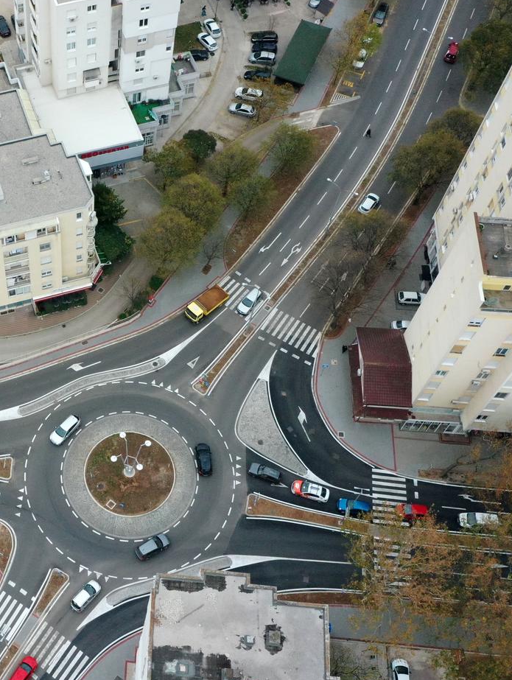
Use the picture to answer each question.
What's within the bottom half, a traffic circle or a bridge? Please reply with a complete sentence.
You can see a traffic circle within the bottom half.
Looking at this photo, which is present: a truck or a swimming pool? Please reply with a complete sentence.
The image shows a truck.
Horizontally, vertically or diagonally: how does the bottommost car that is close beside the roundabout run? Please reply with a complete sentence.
In this picture, the bottommost car that is close beside the roundabout is oriented diagonally.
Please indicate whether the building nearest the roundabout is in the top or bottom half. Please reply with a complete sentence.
You can find the building nearest the roundabout in the bottom half.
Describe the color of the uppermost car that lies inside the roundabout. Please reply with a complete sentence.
The color of the uppermost car that lies inside the roundabout is white.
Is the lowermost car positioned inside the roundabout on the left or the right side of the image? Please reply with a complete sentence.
It is on the left.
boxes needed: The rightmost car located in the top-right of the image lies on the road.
[443,41,462,63]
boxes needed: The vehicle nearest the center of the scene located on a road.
[236,286,265,316]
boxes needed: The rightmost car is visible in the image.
[456,509,503,530]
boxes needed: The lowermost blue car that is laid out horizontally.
[336,497,373,519]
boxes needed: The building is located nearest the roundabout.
[136,569,341,680]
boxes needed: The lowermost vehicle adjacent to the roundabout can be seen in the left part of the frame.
[66,577,105,615]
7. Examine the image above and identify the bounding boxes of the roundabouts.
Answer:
[24,380,236,579]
